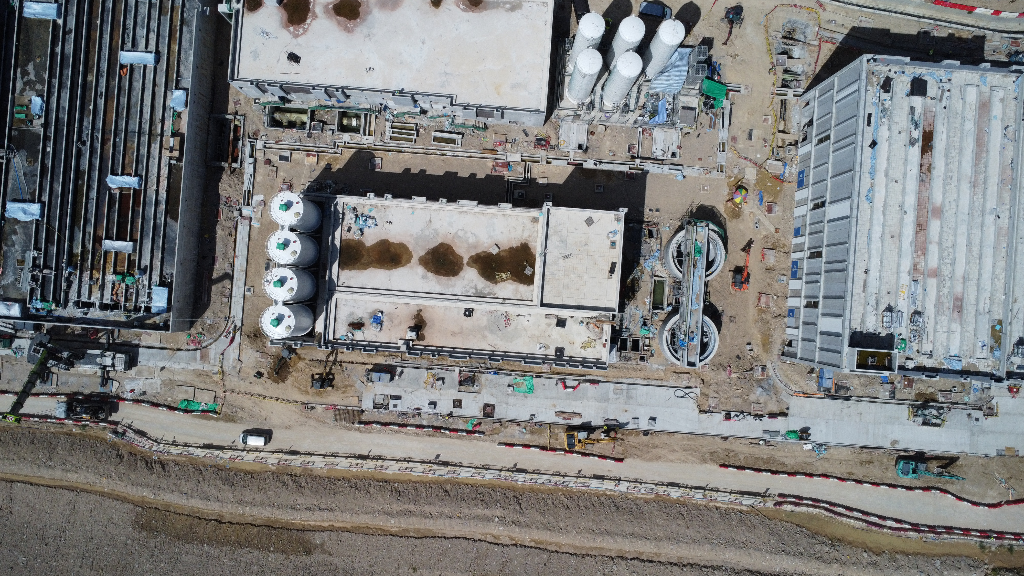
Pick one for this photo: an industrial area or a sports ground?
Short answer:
industrial area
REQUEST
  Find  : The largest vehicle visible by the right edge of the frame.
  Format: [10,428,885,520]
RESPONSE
[890,456,974,483]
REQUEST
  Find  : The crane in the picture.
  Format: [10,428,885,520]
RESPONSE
[0,331,138,425]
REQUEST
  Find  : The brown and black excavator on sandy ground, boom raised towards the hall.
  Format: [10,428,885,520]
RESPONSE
[311,349,334,396]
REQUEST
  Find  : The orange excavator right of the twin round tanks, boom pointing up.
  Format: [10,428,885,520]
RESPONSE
[728,245,753,294]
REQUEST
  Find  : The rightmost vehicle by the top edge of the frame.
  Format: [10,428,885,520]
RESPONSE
[721,0,744,46]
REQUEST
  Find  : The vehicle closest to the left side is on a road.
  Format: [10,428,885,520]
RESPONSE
[55,401,115,420]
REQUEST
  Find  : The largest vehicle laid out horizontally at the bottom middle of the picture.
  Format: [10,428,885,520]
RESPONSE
[559,429,628,451]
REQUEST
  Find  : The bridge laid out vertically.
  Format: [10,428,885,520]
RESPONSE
[674,225,708,369]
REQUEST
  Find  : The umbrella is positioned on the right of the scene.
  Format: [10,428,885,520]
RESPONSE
[733,188,748,203]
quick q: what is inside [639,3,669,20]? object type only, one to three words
car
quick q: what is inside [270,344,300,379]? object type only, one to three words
work vehicle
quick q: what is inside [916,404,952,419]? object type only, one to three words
work vehicle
